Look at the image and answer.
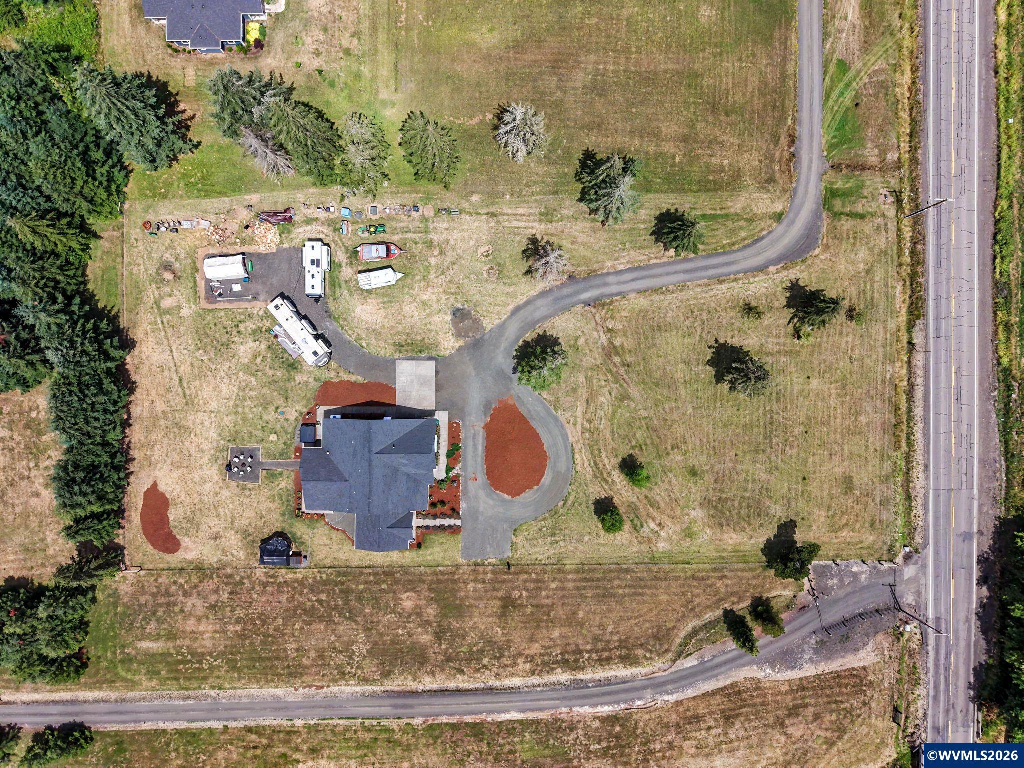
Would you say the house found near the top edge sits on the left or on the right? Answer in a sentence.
The house found near the top edge sits on the left side.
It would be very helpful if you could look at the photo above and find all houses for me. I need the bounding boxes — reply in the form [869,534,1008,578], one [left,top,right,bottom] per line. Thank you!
[298,419,438,552]
[139,0,266,56]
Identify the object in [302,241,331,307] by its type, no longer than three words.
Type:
trailer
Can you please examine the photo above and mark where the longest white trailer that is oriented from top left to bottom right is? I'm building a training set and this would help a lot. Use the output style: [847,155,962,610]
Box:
[268,297,331,365]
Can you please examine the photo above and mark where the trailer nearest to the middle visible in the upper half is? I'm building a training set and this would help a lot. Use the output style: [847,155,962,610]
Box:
[359,269,404,291]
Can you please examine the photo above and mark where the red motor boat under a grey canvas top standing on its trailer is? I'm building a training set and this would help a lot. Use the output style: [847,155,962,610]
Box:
[352,245,407,262]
